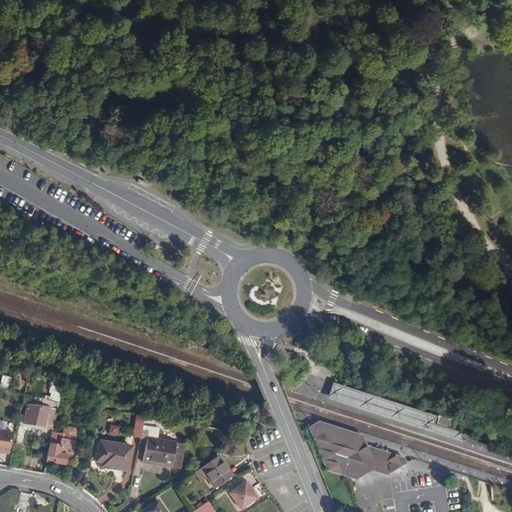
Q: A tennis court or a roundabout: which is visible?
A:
roundabout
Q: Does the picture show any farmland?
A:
No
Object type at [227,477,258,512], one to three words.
house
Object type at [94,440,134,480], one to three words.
house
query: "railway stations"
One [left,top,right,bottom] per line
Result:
[310,421,406,480]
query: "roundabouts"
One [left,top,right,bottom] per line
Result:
[221,248,312,338]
